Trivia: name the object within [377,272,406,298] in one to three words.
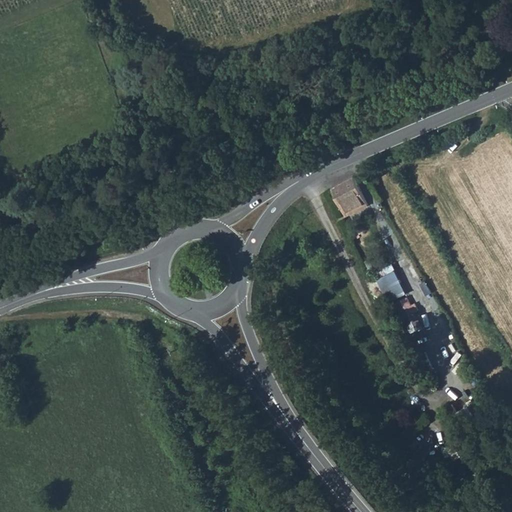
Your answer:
building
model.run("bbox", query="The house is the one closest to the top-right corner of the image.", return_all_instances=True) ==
[330,178,368,218]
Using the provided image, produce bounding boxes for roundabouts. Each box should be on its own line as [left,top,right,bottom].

[150,219,252,320]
